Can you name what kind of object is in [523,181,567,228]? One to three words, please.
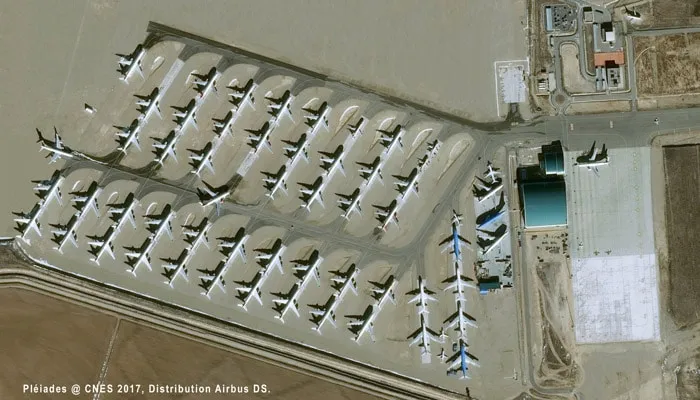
hangar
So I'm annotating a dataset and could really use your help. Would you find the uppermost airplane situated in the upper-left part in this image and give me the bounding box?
[120,53,145,81]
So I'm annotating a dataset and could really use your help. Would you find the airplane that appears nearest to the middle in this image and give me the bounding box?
[338,194,363,222]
